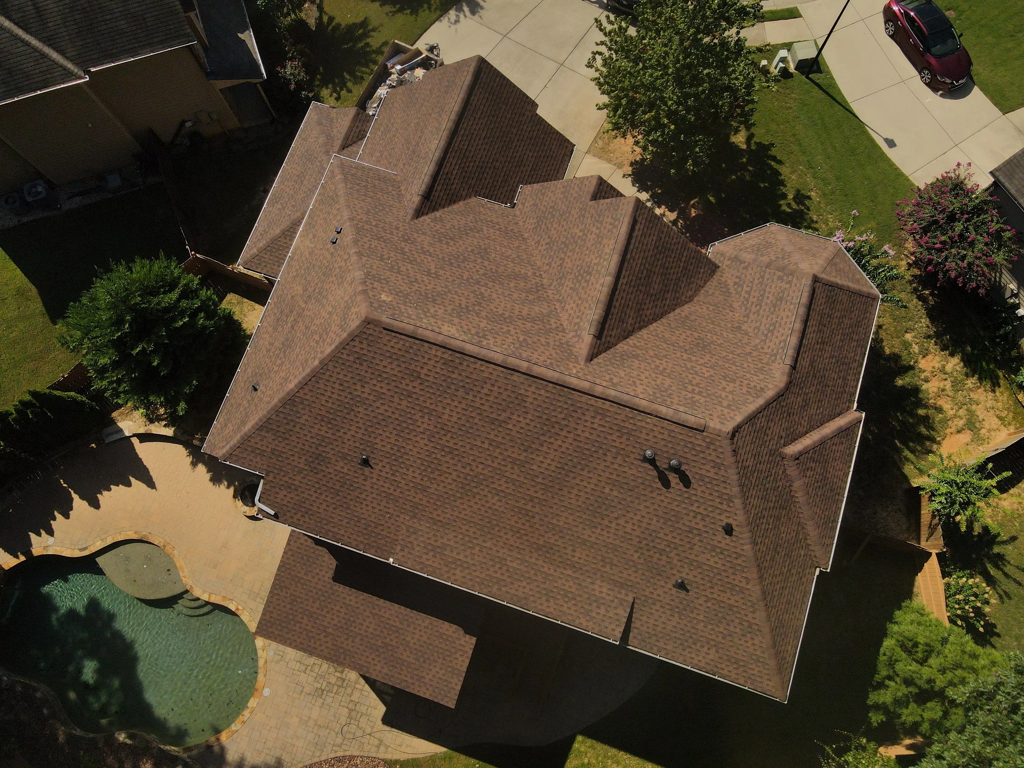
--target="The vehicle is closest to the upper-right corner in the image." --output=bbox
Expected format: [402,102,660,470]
[880,0,974,93]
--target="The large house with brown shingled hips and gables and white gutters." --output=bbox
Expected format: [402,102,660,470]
[199,54,882,708]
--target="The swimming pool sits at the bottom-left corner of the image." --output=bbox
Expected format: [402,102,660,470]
[0,531,267,757]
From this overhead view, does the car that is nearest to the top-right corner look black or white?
black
